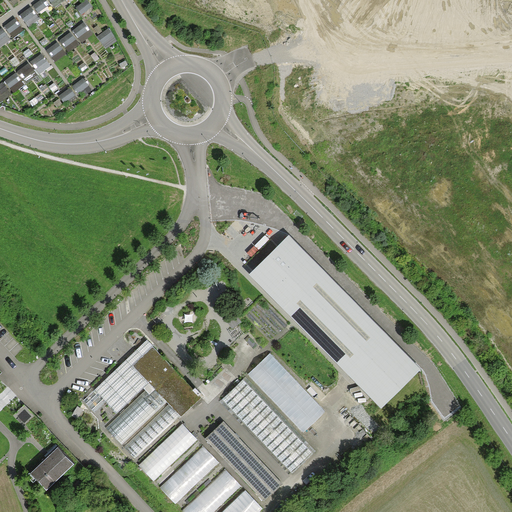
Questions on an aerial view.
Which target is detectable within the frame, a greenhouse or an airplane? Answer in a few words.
greenhouse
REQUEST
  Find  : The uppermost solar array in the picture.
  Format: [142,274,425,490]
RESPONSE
[288,302,344,358]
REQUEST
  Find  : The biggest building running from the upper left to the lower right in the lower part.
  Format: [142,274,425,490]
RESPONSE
[250,235,421,409]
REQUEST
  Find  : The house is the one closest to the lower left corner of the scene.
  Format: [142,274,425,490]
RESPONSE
[28,447,73,492]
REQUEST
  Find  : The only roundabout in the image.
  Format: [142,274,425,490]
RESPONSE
[142,54,232,144]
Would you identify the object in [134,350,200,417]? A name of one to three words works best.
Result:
building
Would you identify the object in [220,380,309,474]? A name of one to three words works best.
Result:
greenhouse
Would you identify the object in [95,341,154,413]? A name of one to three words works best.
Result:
greenhouse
